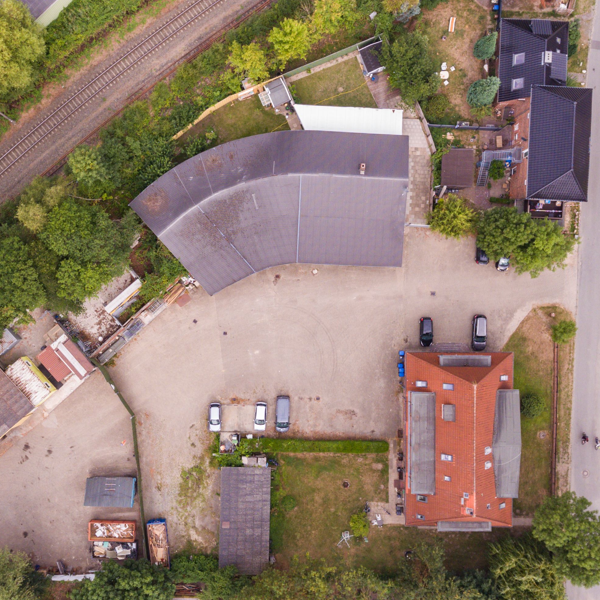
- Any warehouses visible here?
Yes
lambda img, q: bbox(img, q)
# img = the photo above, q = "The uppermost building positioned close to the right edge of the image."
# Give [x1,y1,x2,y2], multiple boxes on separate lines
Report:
[494,18,570,105]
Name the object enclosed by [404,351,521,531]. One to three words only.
house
